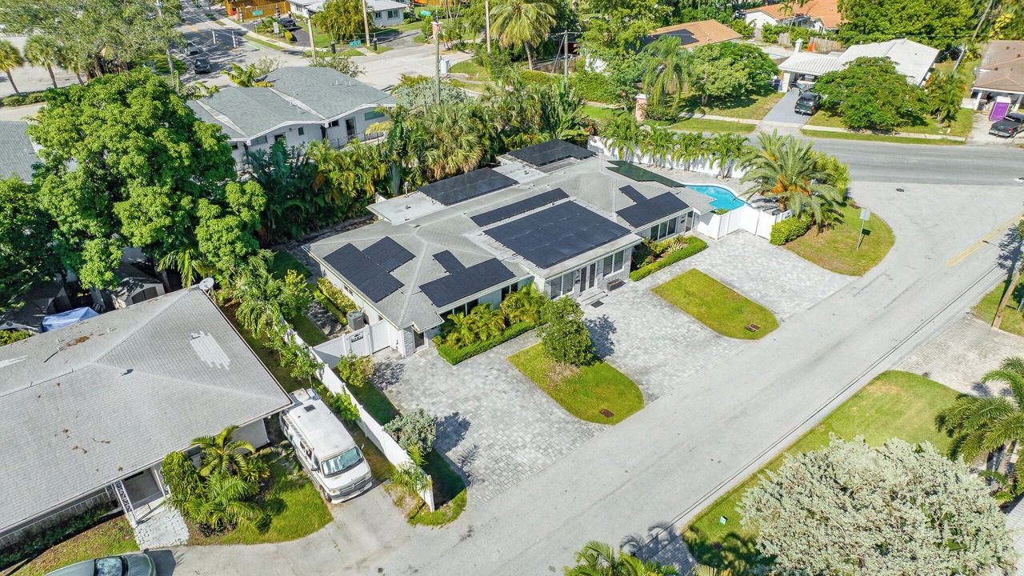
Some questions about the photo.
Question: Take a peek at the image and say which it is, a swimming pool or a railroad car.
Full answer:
I can see a swimming pool in this picture.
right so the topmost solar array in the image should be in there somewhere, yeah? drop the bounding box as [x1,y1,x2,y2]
[653,25,702,49]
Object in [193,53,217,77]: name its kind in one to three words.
car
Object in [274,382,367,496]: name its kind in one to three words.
van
